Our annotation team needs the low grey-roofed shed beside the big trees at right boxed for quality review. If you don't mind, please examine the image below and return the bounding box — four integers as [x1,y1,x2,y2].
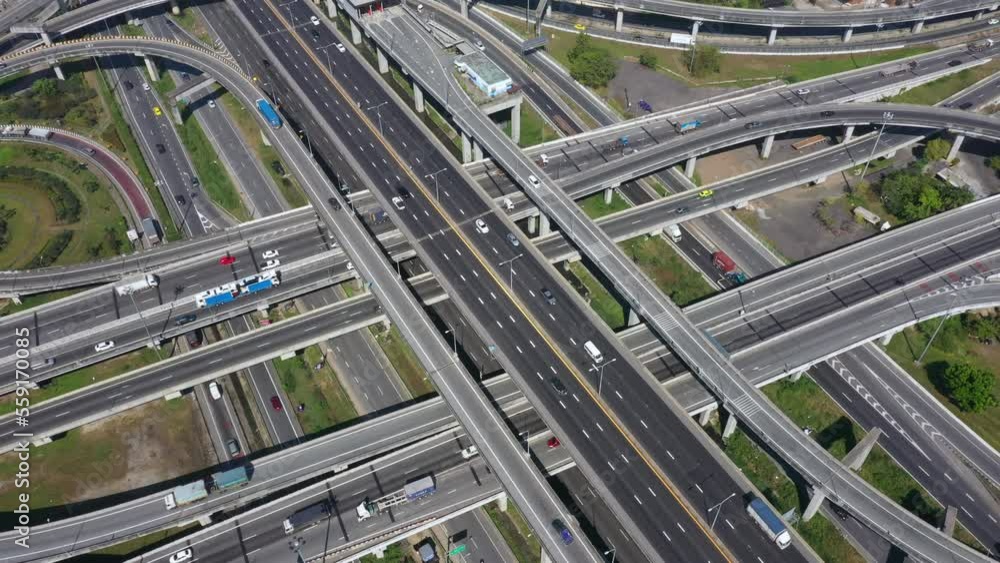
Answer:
[940,163,975,185]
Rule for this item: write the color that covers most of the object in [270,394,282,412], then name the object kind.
red vehicle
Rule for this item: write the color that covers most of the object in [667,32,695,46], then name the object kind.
white vehicle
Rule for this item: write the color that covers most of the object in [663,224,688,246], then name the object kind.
white truck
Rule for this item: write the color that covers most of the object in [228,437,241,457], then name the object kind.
gray vehicle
